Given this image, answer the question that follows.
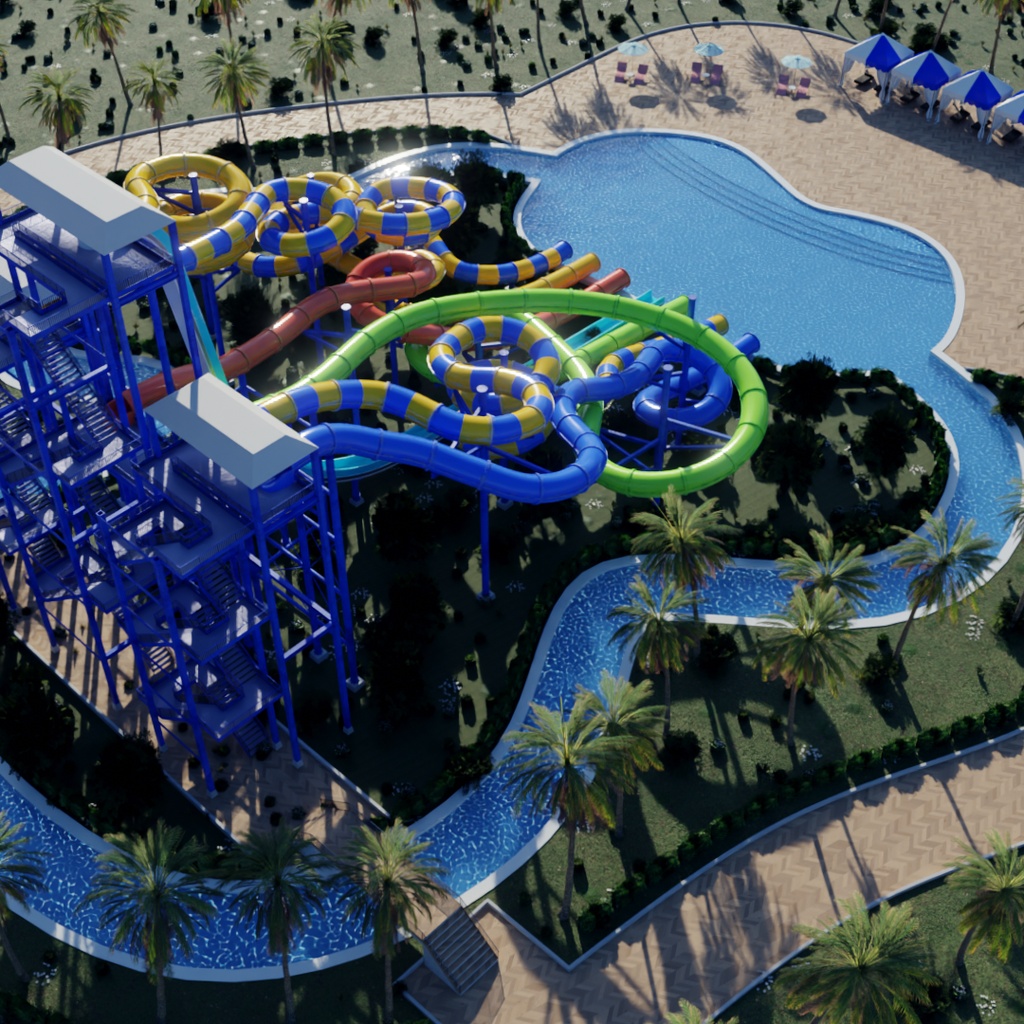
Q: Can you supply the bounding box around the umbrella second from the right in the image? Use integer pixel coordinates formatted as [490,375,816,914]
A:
[692,42,727,72]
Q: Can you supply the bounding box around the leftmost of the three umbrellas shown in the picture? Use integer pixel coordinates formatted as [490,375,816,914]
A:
[616,43,649,72]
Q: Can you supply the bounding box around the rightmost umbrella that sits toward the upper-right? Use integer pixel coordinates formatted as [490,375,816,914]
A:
[781,55,814,85]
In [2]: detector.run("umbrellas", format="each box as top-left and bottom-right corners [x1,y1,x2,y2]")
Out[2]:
[781,55,814,85]
[692,42,727,72]
[616,43,649,72]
